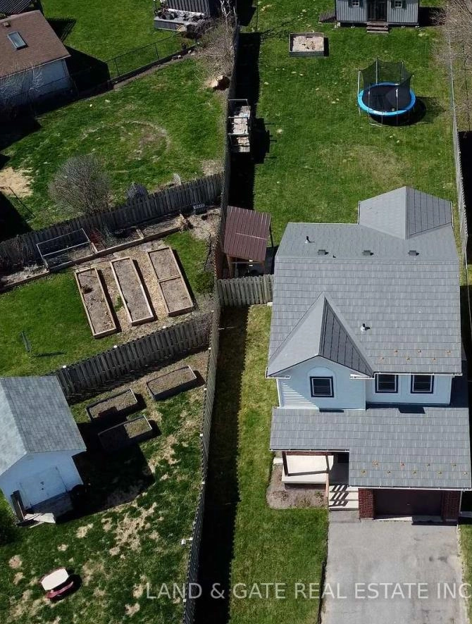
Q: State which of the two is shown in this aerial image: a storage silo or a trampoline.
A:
trampoline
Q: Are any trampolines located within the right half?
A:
Yes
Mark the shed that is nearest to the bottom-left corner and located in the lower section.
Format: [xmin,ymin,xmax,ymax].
[0,375,88,526]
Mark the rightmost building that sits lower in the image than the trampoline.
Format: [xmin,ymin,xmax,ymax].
[264,183,472,521]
